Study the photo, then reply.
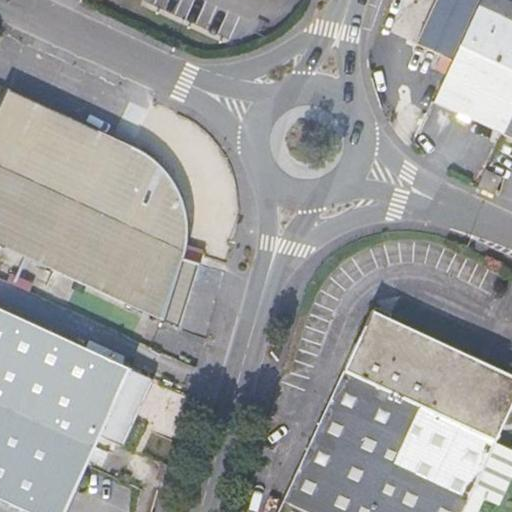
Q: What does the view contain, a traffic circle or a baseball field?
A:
traffic circle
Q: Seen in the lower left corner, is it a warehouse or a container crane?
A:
warehouse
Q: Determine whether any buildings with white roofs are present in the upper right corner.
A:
Yes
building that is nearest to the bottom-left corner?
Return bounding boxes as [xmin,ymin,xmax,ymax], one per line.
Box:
[0,302,154,512]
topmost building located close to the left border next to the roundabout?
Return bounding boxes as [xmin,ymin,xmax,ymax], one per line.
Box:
[0,89,190,321]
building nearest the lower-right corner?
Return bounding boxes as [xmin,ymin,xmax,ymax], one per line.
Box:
[275,307,512,512]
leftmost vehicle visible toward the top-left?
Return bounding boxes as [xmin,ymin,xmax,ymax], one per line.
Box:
[85,112,110,130]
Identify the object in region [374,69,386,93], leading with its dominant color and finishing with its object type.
white vehicle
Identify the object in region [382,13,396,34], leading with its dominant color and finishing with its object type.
white vehicle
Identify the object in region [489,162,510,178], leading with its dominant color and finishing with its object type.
white car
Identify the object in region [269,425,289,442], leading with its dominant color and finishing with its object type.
white car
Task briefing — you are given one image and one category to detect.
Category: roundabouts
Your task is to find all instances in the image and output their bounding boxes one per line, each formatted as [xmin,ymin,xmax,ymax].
[178,20,440,266]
